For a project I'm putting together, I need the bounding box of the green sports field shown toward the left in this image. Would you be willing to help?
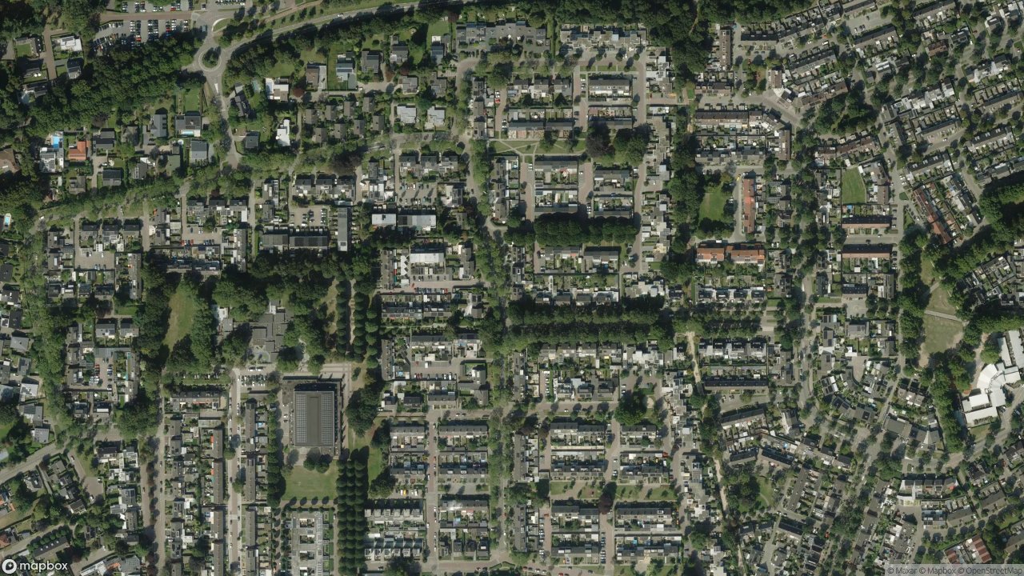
[284,468,336,500]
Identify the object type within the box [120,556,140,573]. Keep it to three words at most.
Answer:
building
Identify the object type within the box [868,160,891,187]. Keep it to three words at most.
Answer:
house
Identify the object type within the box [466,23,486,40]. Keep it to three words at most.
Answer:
house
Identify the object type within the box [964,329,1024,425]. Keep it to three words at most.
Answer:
building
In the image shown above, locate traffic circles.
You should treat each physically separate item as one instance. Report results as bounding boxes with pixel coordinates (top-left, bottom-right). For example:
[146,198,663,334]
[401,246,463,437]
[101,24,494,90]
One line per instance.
[190,40,229,79]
